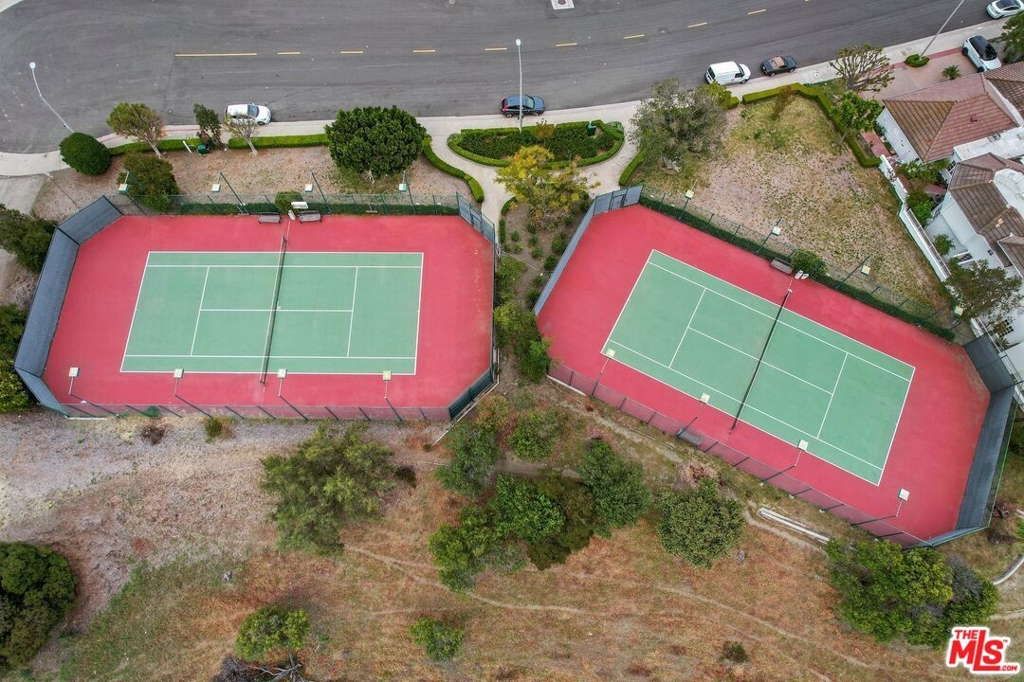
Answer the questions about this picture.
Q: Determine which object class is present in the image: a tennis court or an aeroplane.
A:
tennis court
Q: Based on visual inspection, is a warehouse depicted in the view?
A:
No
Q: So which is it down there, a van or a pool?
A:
van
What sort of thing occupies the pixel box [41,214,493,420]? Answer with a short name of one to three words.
tennis court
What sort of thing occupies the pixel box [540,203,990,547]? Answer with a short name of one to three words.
tennis court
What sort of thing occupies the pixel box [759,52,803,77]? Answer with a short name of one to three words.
car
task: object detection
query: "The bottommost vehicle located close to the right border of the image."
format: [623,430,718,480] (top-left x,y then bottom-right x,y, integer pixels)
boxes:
[961,29,1006,71]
